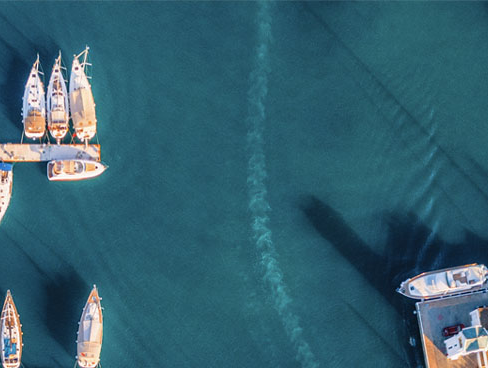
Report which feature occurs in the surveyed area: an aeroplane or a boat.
boat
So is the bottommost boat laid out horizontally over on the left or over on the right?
right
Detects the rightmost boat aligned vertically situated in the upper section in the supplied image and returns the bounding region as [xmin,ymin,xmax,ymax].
[66,47,97,147]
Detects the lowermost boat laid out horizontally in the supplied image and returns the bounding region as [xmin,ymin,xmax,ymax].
[397,266,488,298]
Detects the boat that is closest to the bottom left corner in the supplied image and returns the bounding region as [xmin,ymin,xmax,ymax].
[0,282,23,368]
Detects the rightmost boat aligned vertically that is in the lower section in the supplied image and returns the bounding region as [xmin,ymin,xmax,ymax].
[77,278,106,368]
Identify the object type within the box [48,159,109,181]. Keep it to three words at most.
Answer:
boat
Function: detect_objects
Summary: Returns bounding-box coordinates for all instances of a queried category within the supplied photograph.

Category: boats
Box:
[77,278,106,368]
[19,54,48,145]
[397,266,488,298]
[43,51,68,148]
[0,161,17,237]
[66,47,97,147]
[0,282,23,368]
[48,159,109,181]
